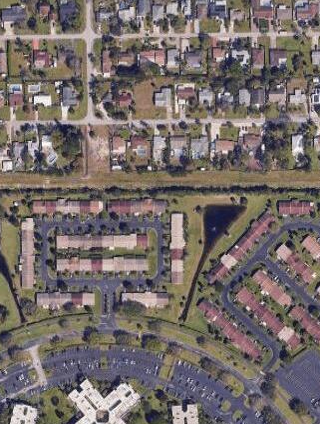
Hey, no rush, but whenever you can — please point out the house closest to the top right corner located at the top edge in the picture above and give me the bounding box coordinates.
[295,1,319,18]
